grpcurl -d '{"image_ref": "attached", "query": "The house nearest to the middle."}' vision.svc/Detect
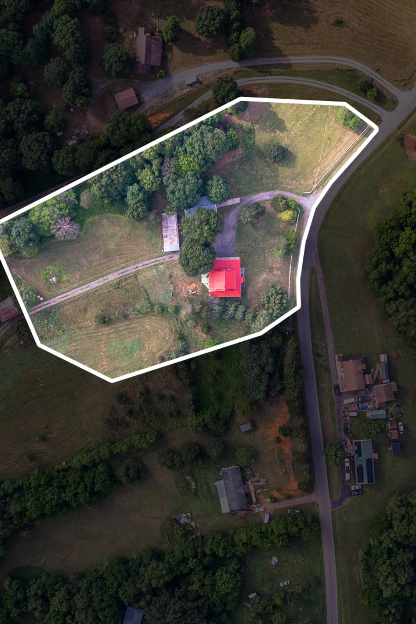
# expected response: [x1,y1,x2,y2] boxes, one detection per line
[207,257,245,297]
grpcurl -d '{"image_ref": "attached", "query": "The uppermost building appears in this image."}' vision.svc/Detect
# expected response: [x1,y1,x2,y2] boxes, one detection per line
[135,27,173,75]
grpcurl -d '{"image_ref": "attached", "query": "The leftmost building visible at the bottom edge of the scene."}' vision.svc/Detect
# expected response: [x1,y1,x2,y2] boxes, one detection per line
[123,606,144,624]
